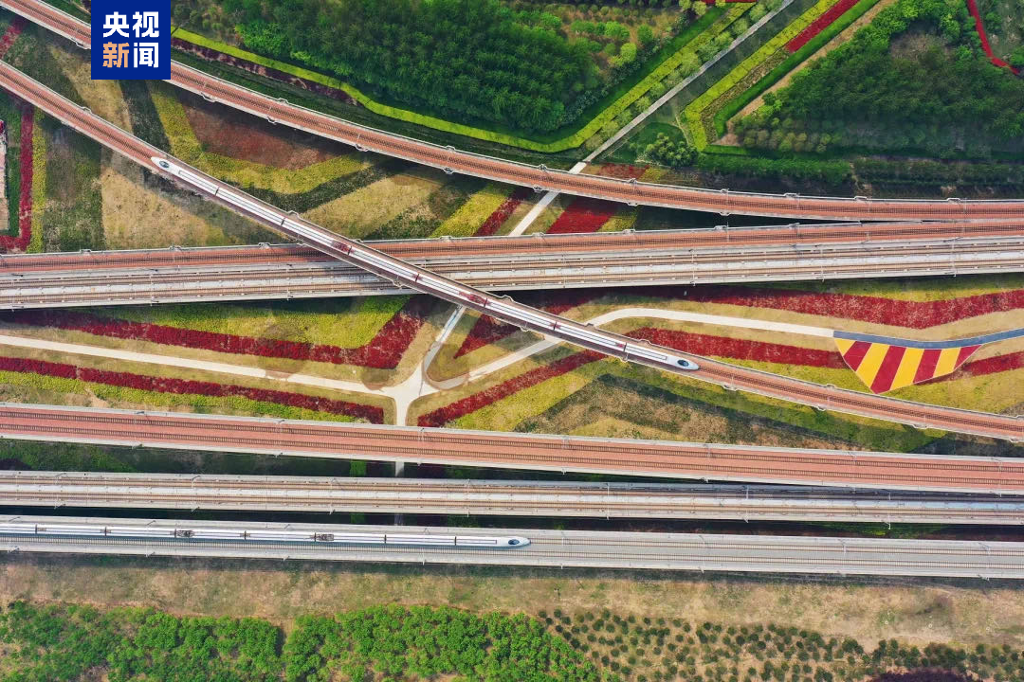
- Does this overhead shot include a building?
No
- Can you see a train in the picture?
Yes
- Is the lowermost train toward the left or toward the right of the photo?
left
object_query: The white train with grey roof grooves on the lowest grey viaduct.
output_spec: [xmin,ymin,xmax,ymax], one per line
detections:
[0,523,527,548]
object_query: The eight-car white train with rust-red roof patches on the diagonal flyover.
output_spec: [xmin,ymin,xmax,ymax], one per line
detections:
[155,159,695,368]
